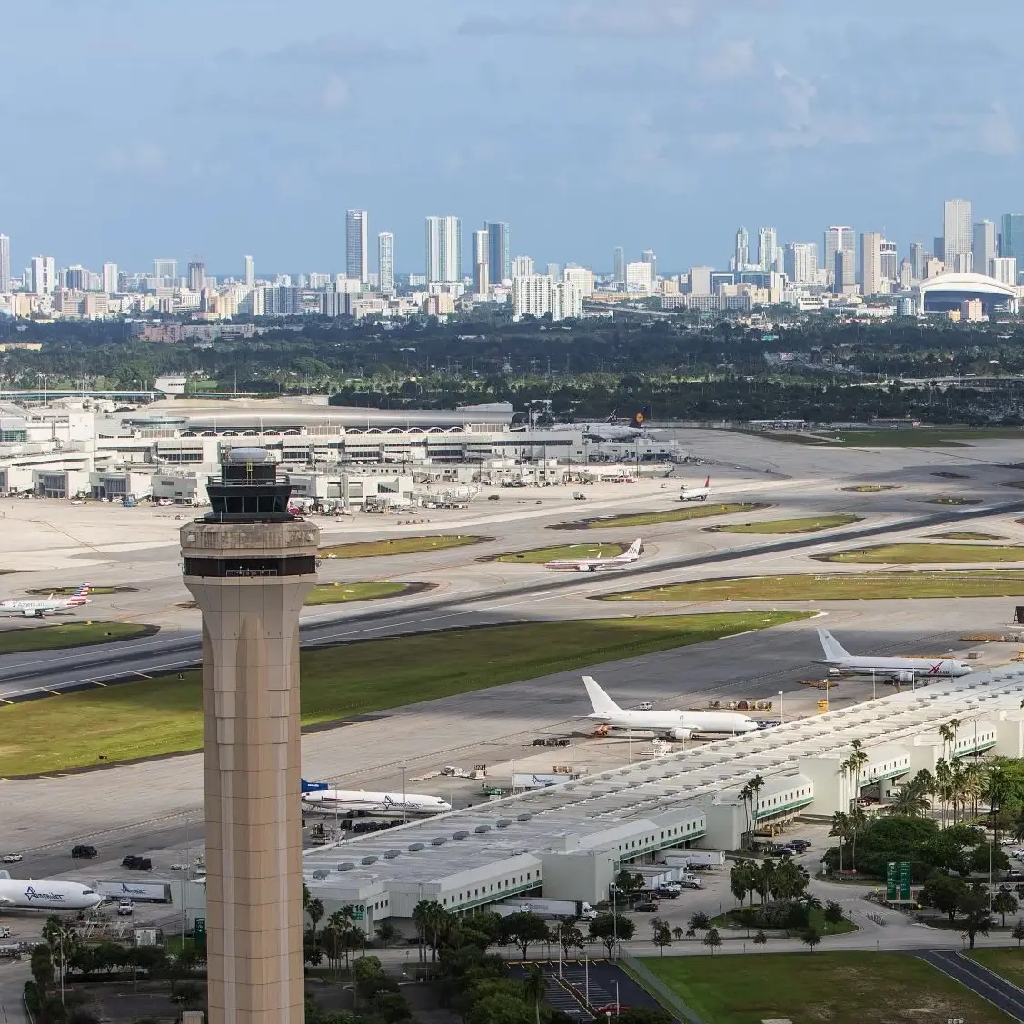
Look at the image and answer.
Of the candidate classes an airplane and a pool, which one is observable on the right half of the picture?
airplane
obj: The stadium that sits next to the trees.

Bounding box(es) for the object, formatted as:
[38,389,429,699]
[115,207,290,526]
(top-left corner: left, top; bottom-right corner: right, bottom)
[906,273,1019,315]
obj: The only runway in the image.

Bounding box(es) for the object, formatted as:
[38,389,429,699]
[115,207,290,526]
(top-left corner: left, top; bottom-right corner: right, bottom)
[0,496,1024,700]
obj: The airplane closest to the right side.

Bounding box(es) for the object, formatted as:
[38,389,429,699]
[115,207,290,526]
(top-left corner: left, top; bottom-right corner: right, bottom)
[812,628,970,683]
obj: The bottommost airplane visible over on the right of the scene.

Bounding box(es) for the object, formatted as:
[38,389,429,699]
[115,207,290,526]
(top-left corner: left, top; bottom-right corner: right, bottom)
[578,678,759,742]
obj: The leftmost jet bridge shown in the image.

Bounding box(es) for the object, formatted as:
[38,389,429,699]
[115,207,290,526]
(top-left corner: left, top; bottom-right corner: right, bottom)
[22,483,42,496]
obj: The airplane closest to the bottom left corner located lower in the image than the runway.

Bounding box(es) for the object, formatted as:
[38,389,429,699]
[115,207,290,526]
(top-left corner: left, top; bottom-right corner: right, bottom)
[0,873,99,918]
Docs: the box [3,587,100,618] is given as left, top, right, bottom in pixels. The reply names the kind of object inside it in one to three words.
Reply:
airplane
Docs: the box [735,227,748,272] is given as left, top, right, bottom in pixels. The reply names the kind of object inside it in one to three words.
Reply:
building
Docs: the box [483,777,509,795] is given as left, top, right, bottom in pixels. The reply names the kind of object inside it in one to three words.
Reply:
work vehicle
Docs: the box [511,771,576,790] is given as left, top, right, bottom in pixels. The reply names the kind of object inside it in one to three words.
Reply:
trailer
